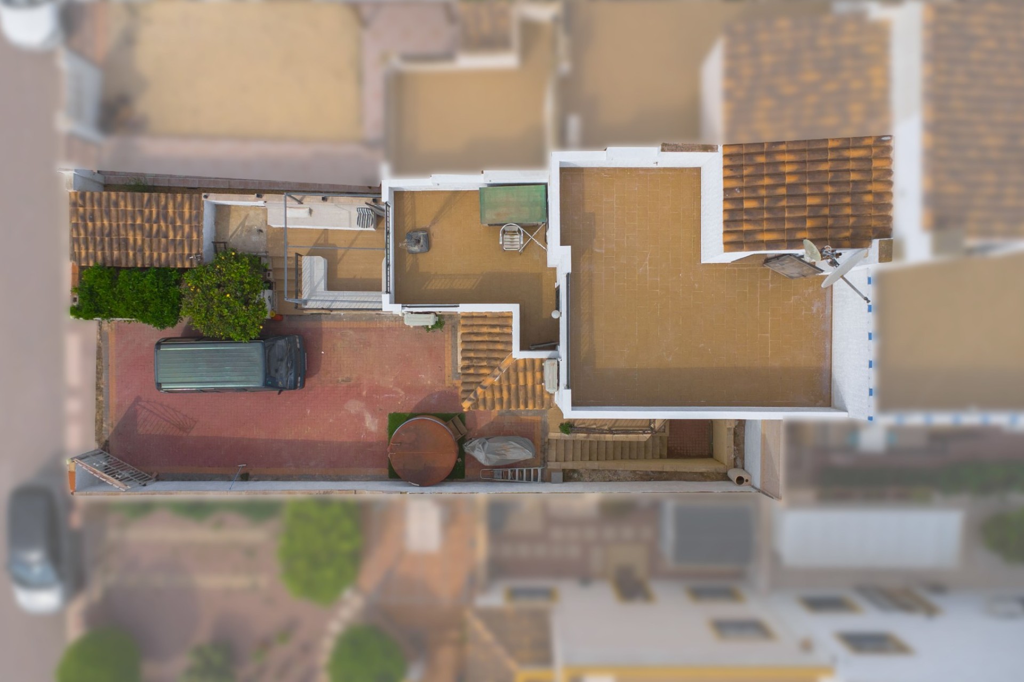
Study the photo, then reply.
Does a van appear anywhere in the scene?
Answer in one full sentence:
Yes, there's a van here.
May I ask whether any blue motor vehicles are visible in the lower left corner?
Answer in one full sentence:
No, looking in the lower left corner, there is no blue motor vehicle.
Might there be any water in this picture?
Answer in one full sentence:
No, there's no water in this view.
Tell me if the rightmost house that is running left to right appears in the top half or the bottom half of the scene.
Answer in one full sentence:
Seen from above, the rightmost house that is running left to right lies in the bottom half of the view.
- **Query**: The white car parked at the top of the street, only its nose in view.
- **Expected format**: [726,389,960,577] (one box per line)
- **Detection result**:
[1,0,65,55]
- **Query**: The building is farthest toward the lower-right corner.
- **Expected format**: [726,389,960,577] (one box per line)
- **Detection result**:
[784,585,1024,682]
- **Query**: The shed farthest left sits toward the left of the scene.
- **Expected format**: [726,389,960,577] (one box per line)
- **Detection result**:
[70,190,215,269]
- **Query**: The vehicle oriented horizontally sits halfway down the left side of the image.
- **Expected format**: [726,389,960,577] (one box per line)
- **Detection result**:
[154,332,308,398]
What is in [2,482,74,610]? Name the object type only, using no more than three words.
car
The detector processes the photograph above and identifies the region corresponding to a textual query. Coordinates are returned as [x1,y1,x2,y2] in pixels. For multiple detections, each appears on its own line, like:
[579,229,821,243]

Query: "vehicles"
[2,482,74,610]
[1,0,65,55]
[154,332,308,398]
